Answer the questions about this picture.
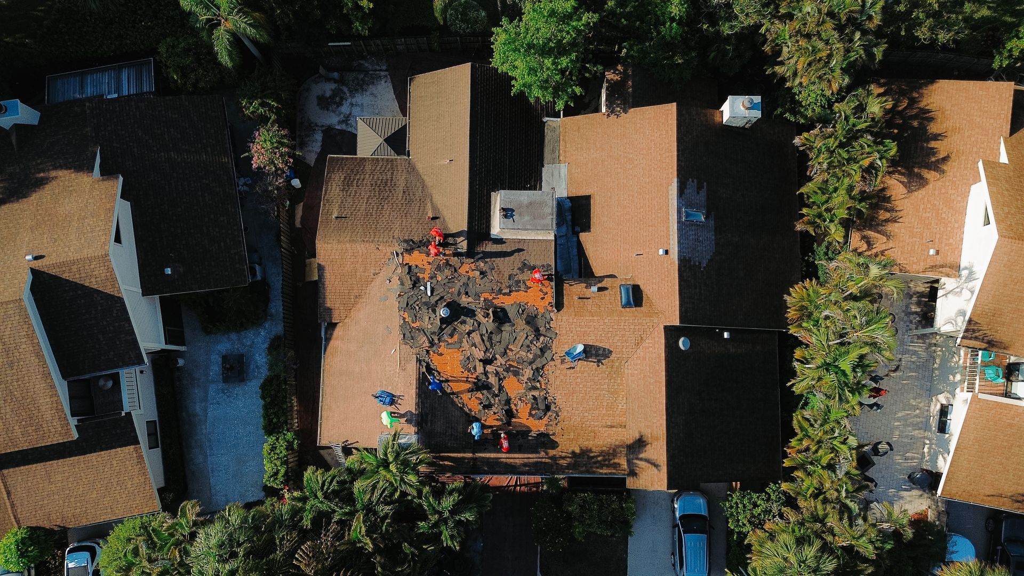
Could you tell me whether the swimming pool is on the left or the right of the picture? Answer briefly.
right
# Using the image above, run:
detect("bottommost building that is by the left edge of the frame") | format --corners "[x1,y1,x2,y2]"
[0,96,251,531]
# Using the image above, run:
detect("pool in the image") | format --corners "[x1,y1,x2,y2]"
[928,528,981,576]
